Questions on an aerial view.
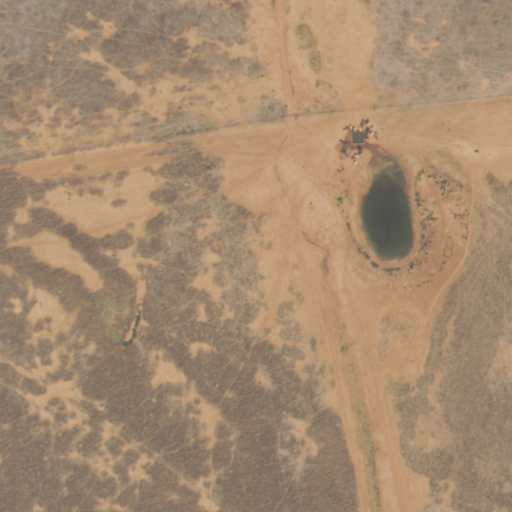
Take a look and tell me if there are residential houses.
No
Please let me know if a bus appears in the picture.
No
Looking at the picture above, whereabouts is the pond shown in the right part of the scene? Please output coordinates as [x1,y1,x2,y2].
[364,164,412,258]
